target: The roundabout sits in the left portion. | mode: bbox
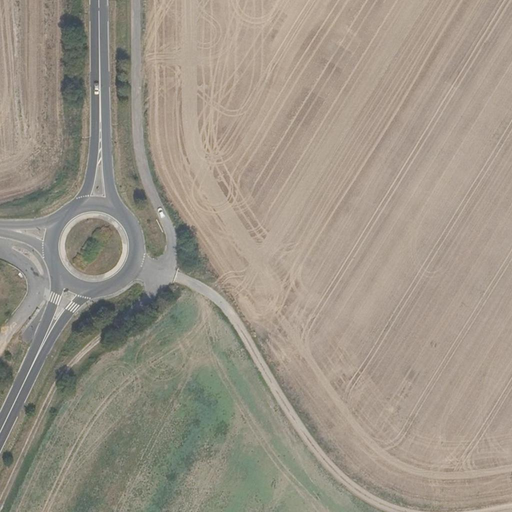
[0,150,146,320]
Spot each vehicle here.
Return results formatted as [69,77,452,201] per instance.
[158,207,166,219]
[94,83,100,95]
